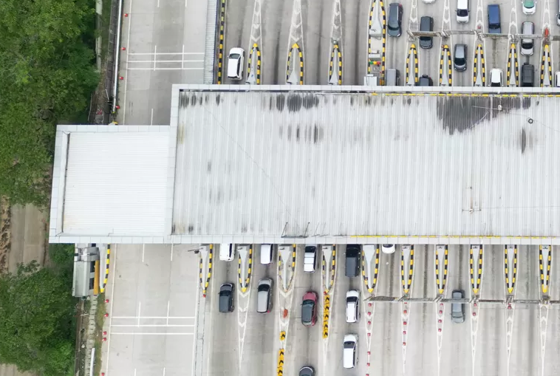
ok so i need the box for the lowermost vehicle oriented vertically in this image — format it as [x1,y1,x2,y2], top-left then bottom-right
[342,334,359,368]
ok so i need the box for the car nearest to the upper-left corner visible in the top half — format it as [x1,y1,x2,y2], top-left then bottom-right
[227,49,245,80]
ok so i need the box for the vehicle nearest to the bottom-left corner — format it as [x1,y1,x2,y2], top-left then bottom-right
[218,284,236,312]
